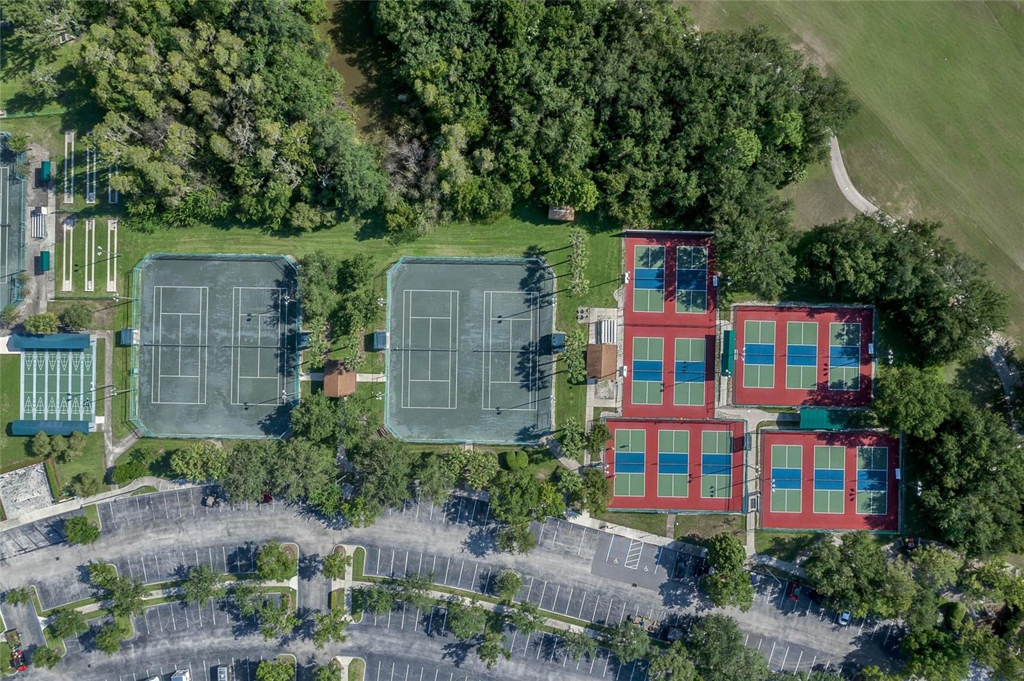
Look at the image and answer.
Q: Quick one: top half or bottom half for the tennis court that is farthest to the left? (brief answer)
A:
top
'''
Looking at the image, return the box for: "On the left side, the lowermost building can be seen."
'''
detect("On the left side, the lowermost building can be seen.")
[323,361,358,397]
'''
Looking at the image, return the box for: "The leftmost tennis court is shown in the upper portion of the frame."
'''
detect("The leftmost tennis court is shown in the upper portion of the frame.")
[0,135,24,306]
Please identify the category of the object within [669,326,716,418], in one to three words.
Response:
sports court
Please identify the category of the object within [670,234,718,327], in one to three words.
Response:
sports court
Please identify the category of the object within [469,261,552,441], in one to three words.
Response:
tennis court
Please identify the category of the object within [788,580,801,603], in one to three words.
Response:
vehicle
